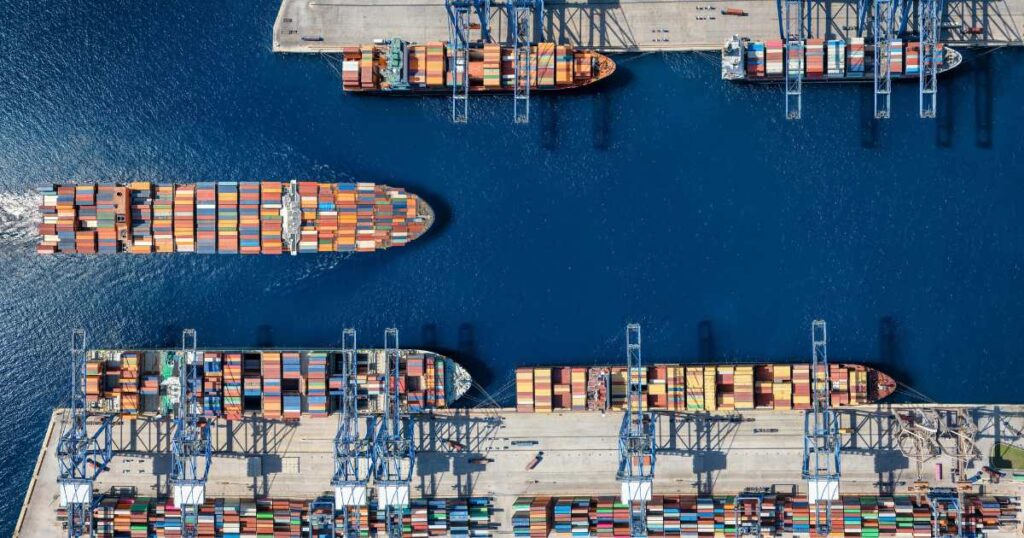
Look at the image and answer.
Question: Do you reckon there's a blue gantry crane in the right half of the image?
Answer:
Yes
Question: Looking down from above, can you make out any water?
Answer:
Yes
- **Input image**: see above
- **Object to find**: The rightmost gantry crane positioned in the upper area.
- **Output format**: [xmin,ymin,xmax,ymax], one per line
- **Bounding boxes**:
[891,0,952,118]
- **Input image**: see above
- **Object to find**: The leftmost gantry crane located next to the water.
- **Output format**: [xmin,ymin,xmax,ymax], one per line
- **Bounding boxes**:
[41,331,130,534]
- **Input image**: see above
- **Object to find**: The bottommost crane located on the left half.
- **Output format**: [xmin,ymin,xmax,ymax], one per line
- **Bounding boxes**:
[309,493,335,538]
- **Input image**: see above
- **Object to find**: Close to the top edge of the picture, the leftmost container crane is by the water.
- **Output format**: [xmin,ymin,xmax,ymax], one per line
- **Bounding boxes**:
[441,0,491,123]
